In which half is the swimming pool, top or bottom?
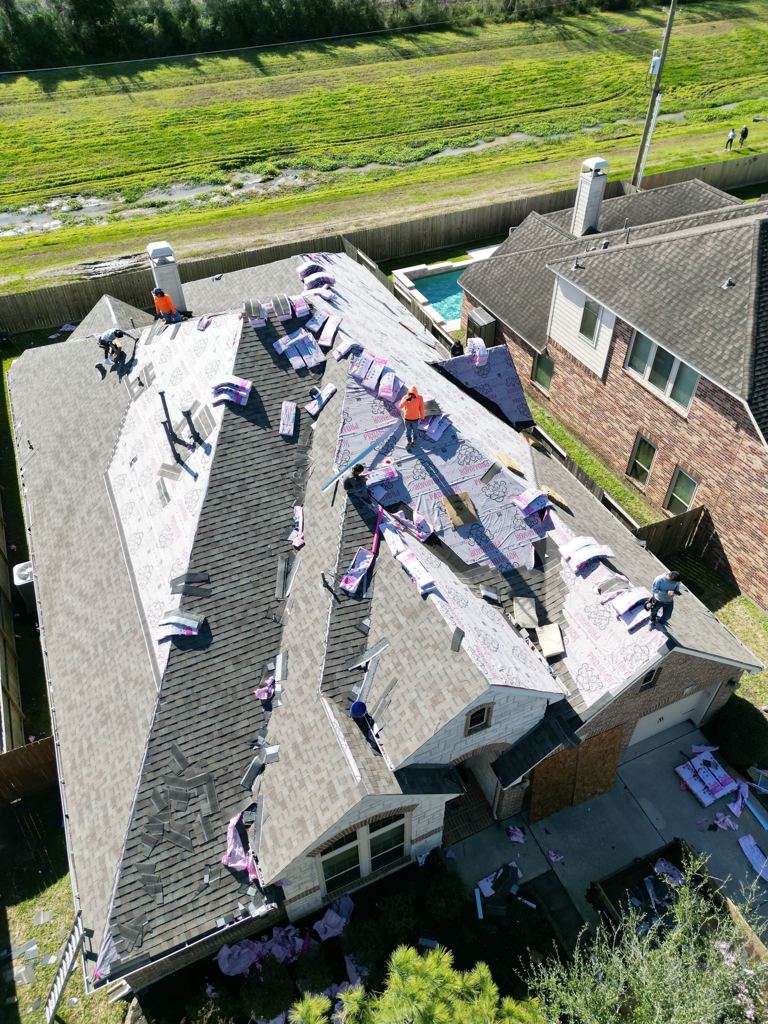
top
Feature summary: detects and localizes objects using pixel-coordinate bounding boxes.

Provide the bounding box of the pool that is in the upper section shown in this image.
[392,242,506,335]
